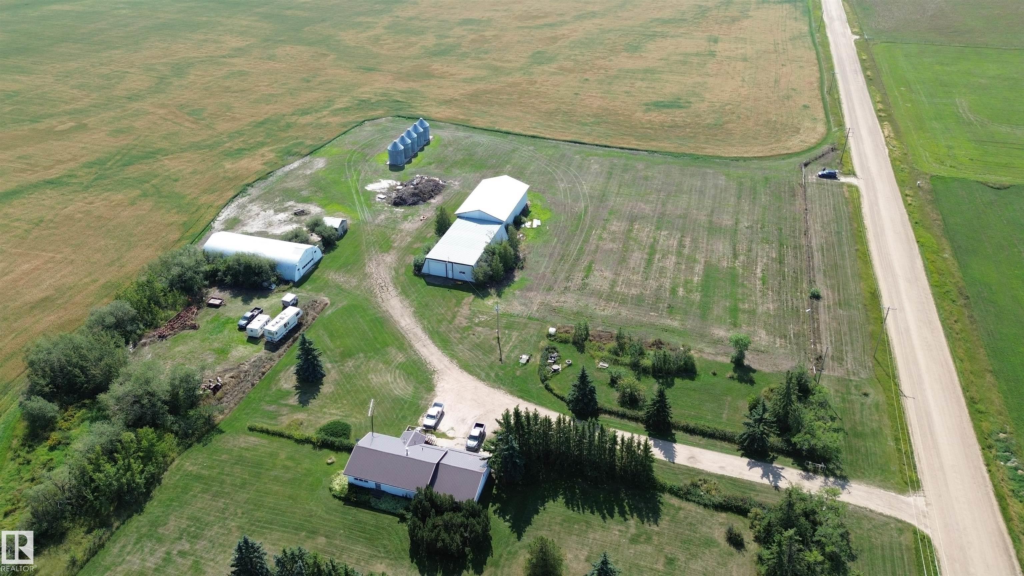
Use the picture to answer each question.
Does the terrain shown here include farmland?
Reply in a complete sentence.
Yes, the picture does contain farmland.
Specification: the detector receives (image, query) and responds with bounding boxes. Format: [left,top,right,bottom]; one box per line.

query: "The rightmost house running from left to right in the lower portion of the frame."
[343,428,493,505]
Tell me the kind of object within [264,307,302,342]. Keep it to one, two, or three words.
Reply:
trailer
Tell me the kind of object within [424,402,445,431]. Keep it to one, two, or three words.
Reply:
truck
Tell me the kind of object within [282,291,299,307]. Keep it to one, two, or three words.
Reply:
camper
